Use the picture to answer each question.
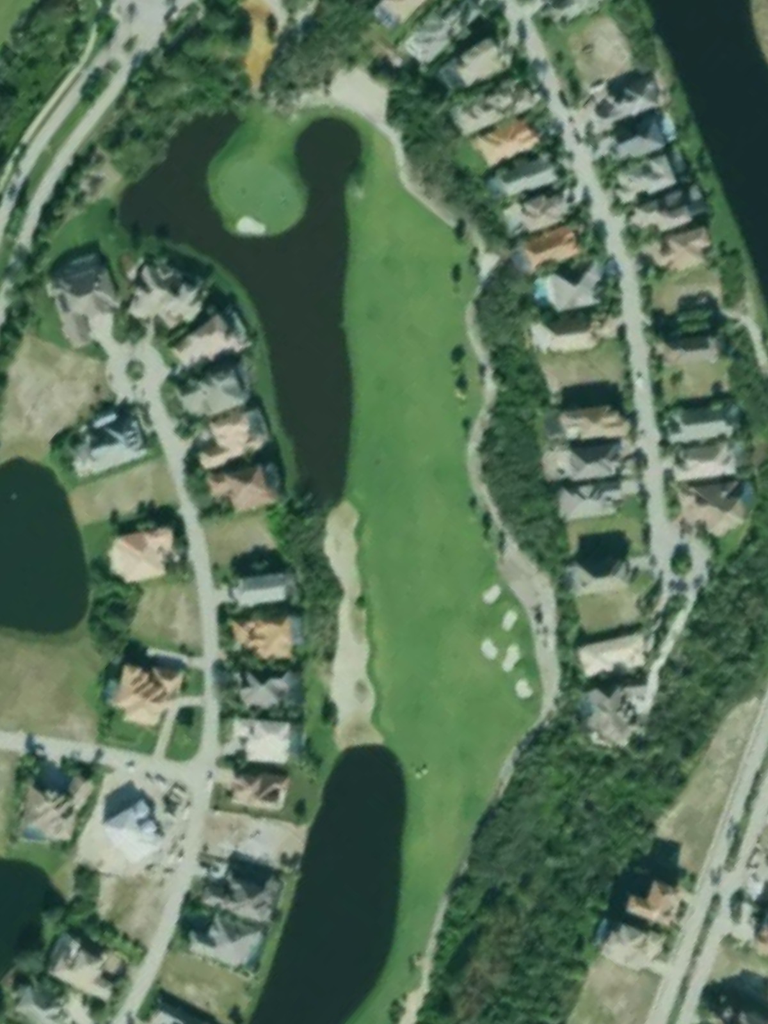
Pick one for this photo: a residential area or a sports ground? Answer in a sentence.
This image shows a residential area.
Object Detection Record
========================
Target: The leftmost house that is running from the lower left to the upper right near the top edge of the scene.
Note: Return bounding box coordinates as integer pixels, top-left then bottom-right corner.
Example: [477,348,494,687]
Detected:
[404,0,481,66]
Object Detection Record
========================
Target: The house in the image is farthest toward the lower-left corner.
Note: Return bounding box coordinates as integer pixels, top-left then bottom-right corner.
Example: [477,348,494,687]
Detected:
[8,981,83,1024]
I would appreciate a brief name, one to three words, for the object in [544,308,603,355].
house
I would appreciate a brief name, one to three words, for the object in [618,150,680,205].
house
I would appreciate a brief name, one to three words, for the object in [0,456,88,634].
pond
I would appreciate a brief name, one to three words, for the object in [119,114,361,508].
pond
